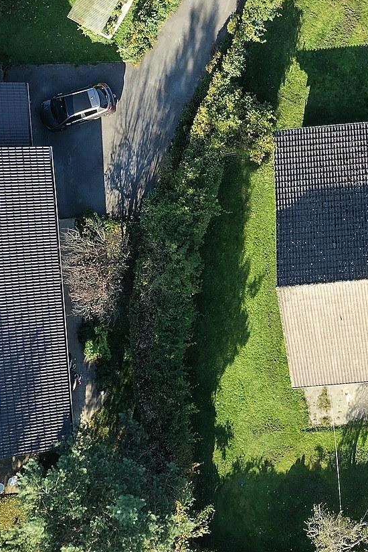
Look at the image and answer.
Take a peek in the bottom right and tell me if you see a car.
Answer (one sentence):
No, no car appears in the bottom right.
